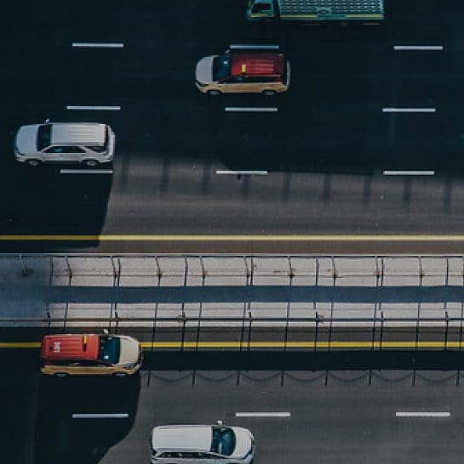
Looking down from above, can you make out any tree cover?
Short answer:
No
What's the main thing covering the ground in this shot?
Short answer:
paved ground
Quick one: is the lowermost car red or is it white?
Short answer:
white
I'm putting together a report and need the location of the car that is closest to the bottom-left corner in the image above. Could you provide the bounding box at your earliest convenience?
[42,329,143,378]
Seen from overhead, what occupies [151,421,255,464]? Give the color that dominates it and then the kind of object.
white car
